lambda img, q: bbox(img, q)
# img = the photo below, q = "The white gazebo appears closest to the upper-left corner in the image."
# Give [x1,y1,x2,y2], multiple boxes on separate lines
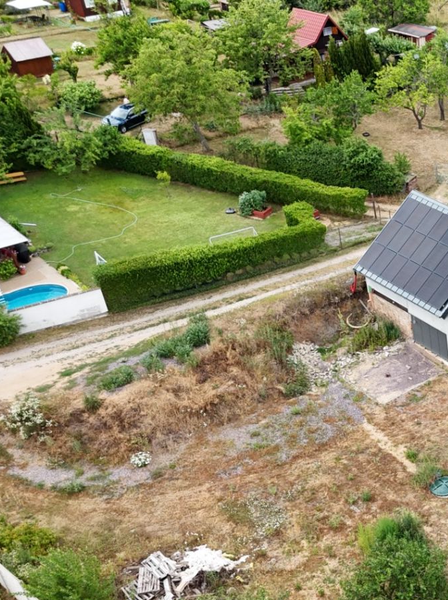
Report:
[5,0,54,26]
